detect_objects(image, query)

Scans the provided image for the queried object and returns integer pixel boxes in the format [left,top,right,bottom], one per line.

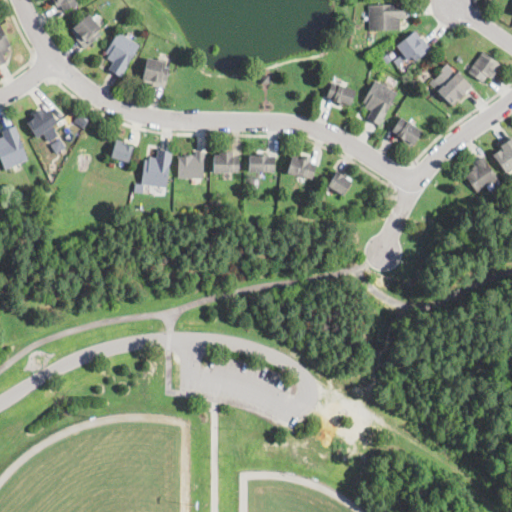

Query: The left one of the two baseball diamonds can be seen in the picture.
[0,414,190,512]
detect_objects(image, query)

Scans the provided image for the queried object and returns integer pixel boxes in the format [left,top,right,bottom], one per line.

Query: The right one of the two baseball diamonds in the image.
[240,471,358,512]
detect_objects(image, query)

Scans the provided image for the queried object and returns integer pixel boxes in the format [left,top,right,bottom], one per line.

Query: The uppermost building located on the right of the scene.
[370,5,403,31]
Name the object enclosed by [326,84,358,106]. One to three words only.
house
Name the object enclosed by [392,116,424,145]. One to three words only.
house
